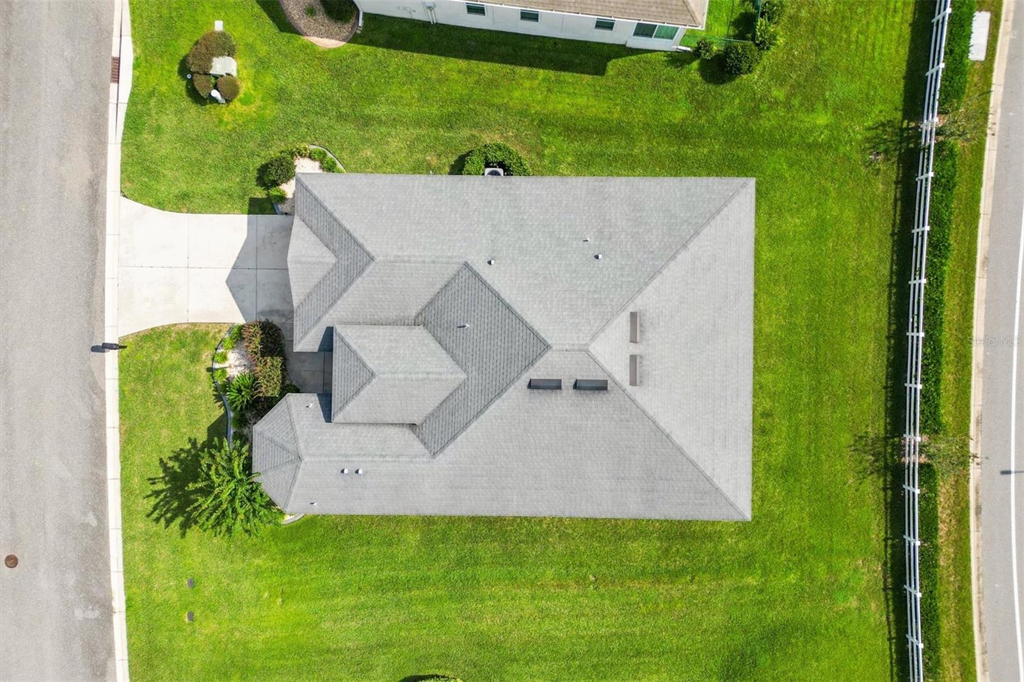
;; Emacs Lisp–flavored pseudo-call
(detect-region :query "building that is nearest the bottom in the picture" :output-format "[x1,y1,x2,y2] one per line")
[252,172,756,520]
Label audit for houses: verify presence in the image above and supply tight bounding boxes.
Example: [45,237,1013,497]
[354,0,710,57]
[252,172,756,520]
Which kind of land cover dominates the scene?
grass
